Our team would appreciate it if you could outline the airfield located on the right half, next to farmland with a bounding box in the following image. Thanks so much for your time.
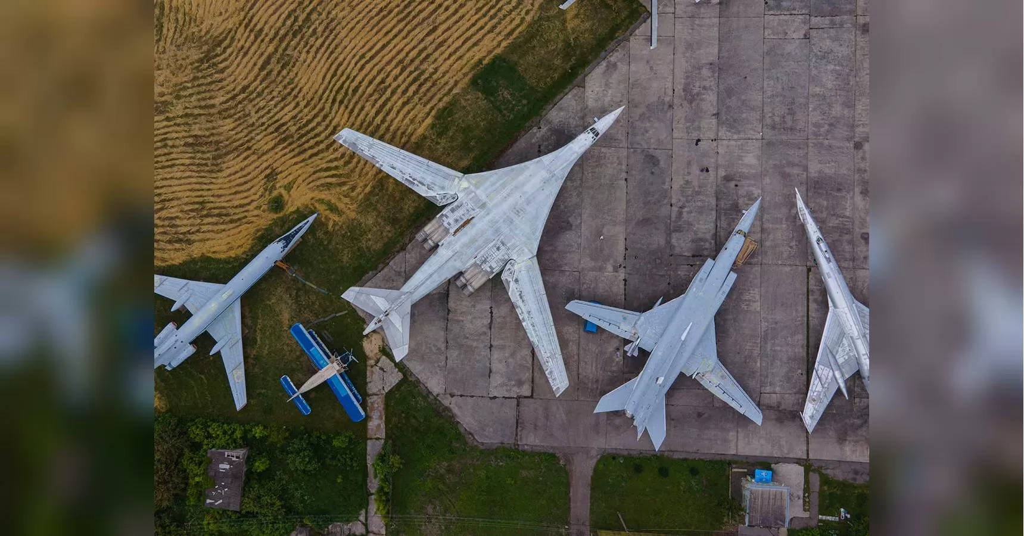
[355,0,1024,494]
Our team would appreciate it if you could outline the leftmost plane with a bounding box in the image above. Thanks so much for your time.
[61,214,317,431]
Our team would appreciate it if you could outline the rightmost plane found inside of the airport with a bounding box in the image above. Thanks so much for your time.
[797,190,952,447]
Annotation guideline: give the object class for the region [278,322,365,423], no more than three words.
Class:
airplane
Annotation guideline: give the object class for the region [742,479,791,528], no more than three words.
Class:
shed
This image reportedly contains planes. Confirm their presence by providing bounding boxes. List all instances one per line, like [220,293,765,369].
[278,322,365,423]
[330,107,624,395]
[565,194,765,451]
[797,190,952,447]
[61,214,317,431]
